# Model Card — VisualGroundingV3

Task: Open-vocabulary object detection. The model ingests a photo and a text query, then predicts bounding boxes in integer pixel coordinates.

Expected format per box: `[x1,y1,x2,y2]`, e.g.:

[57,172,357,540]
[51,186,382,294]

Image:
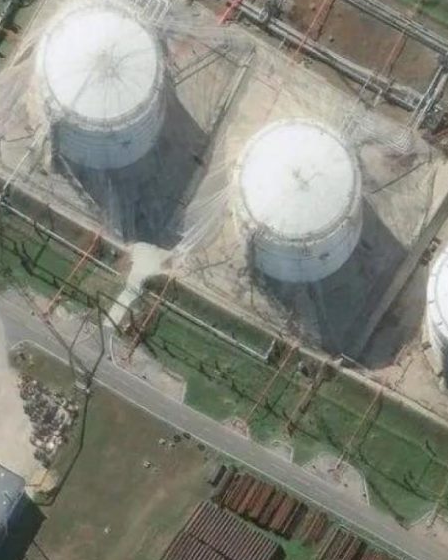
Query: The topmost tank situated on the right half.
[232,117,375,286]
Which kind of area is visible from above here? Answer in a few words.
industrial area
